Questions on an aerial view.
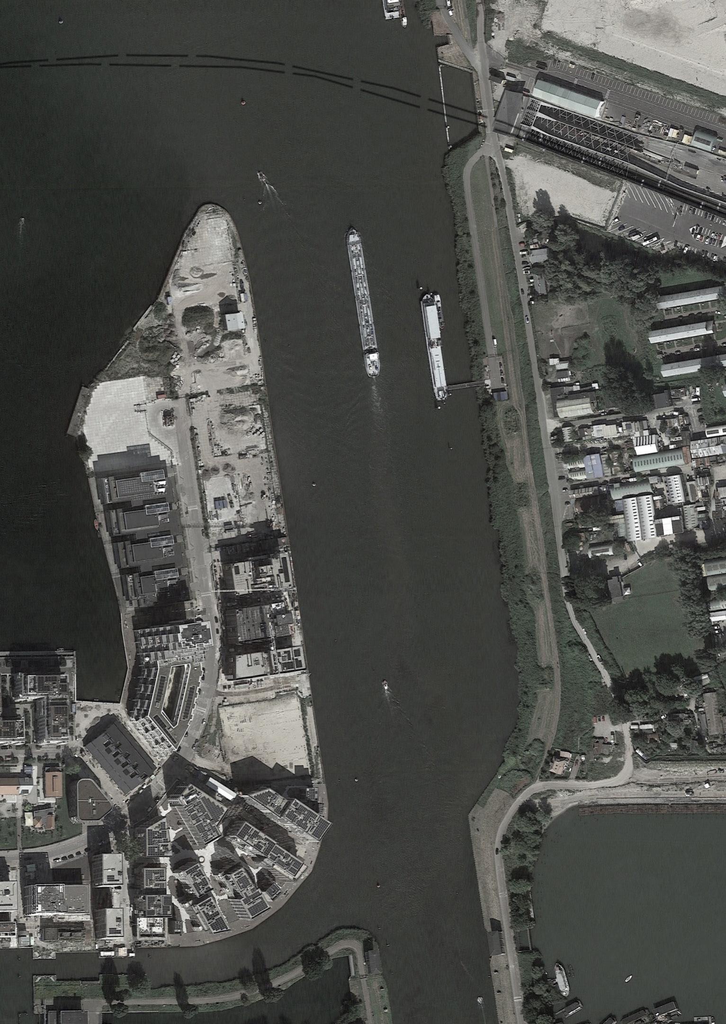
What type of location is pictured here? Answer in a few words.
port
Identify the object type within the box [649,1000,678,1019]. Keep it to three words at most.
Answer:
boat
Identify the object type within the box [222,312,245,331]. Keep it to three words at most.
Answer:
building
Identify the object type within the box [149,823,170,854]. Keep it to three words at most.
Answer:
solar array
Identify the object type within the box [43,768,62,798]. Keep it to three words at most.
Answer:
house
